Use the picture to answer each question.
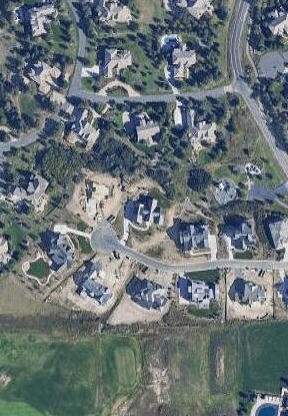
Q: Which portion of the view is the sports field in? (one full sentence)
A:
You can find the sports field in the bottom right area of the picture.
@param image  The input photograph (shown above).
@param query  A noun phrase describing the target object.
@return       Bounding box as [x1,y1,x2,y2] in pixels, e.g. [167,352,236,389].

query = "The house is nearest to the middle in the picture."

[138,198,167,225]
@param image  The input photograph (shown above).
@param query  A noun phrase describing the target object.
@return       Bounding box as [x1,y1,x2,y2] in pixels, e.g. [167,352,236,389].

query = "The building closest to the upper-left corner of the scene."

[27,4,56,38]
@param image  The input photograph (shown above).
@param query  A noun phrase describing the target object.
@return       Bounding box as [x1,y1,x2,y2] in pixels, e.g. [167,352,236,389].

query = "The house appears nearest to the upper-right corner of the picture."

[267,10,288,40]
